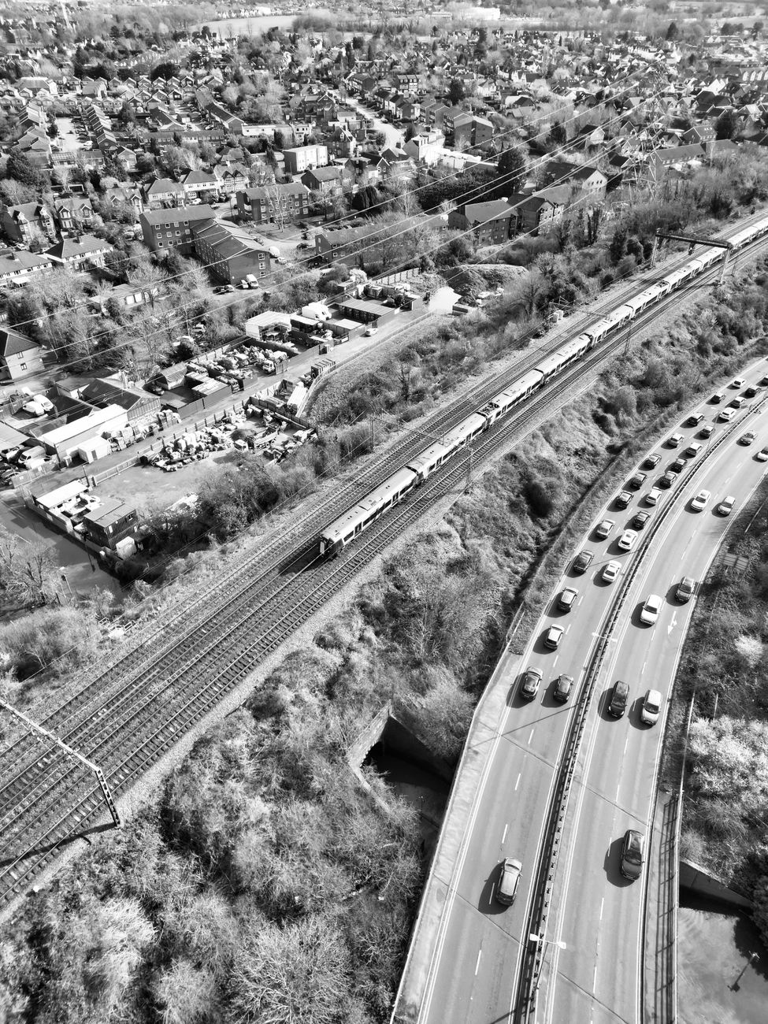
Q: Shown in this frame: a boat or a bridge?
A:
bridge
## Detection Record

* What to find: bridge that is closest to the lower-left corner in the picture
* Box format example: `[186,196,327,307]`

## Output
[317,689,392,767]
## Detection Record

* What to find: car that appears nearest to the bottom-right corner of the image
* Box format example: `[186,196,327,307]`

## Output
[618,827,645,883]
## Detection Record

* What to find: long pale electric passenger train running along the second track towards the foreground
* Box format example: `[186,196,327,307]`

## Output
[325,218,768,556]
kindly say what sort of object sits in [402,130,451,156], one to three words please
house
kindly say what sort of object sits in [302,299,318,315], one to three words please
vehicle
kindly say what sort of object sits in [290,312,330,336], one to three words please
shed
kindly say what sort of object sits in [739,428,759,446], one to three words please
car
